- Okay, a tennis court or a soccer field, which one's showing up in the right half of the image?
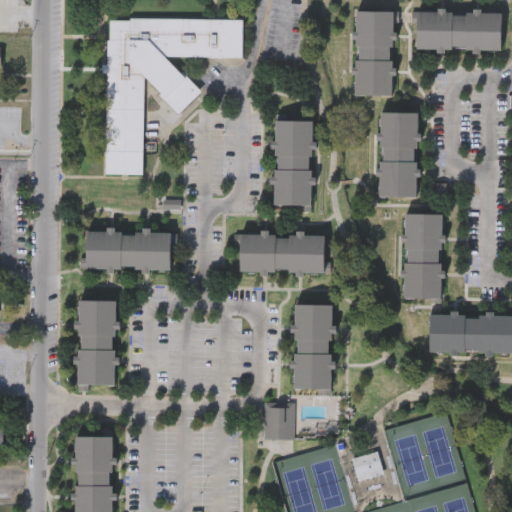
tennis court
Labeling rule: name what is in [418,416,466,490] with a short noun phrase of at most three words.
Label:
tennis court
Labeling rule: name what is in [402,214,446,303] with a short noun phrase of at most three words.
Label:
building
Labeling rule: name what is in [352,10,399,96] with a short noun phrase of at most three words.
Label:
building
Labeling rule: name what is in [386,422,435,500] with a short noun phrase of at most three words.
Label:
tennis court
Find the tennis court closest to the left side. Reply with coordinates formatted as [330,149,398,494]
[276,454,322,512]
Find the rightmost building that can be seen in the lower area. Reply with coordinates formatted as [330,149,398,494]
[430,313,512,356]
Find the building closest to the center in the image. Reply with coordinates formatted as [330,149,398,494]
[238,231,330,276]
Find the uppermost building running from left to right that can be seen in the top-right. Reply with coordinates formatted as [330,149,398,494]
[413,8,504,54]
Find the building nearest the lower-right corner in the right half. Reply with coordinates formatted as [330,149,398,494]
[354,452,384,482]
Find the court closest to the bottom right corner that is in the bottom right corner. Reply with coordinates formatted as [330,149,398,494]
[434,484,474,512]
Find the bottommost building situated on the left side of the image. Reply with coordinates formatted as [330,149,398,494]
[72,438,116,512]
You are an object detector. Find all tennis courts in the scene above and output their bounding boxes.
[418,416,466,490]
[306,446,354,512]
[370,492,440,512]
[276,454,322,512]
[434,484,474,512]
[386,422,435,500]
